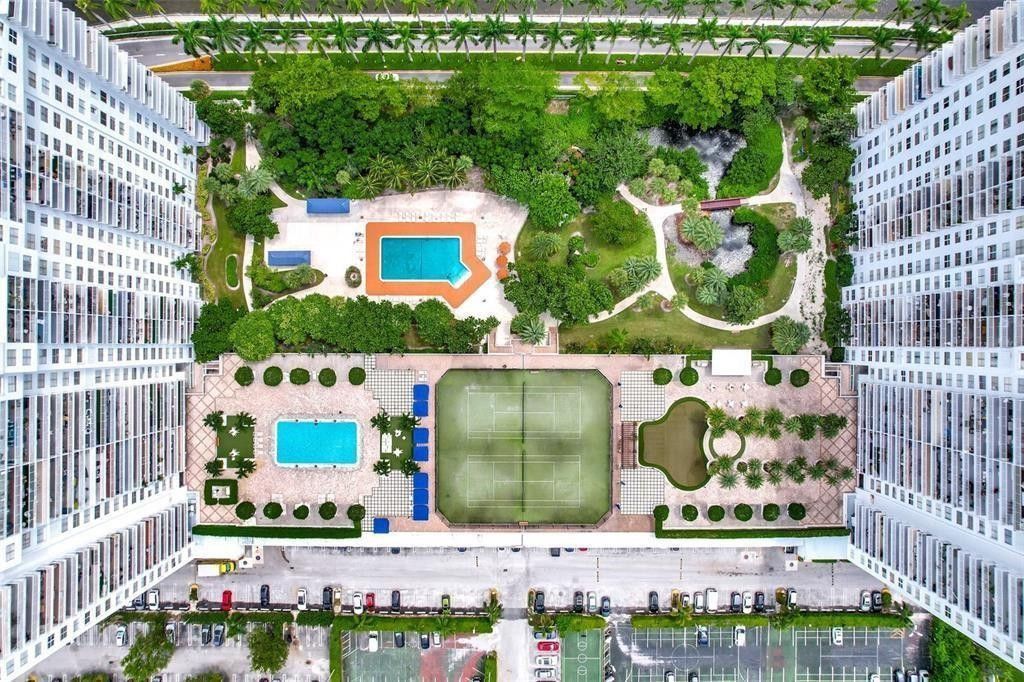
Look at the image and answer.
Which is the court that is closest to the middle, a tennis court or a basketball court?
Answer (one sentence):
Specifically, the court that is closest to the middle is a tennis court.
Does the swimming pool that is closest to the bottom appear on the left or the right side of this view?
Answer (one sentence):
The swimming pool that is closest to the bottom sits on the left side.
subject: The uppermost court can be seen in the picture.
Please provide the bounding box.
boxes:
[434,369,614,529]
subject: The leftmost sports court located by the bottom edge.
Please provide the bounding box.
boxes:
[561,627,604,682]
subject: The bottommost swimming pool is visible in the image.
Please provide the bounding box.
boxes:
[268,413,365,473]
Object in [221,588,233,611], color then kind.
red vehicle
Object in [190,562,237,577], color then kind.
white vehicle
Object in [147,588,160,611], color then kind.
white vehicle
